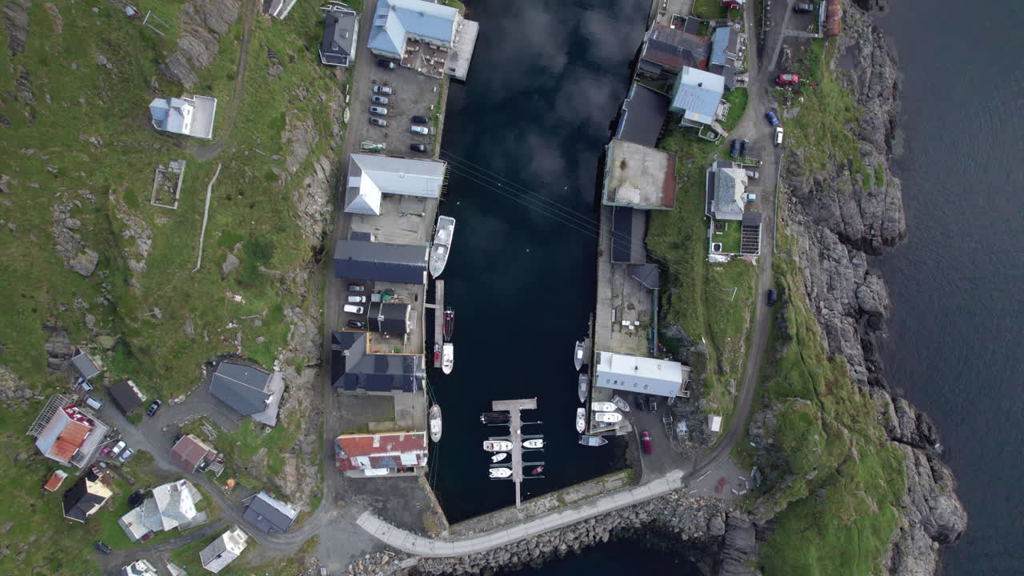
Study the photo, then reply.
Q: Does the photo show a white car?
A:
Yes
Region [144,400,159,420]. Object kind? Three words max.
car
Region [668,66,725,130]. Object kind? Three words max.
building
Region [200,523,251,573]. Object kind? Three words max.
house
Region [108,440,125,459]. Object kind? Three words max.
car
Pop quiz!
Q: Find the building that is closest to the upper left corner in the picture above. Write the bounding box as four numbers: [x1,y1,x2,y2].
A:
[150,98,193,135]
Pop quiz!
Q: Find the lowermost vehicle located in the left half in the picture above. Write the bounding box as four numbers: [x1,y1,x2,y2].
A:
[90,541,111,557]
